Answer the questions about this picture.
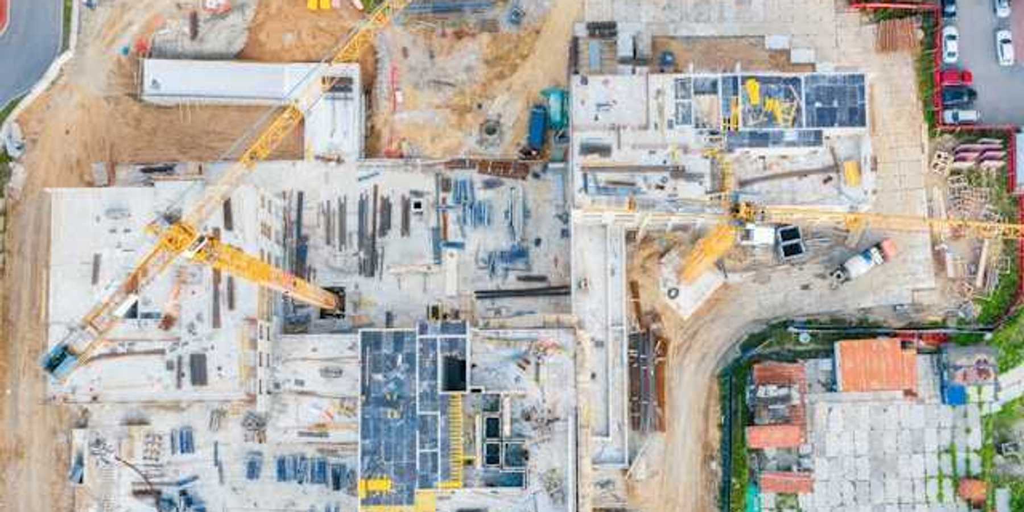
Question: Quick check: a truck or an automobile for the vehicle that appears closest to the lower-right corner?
truck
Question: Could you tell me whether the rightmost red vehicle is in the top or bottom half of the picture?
top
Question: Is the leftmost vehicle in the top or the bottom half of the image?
top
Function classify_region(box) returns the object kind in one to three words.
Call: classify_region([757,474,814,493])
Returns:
house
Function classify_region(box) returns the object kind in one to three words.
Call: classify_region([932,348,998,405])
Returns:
shed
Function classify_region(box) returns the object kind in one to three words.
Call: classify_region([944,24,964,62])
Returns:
car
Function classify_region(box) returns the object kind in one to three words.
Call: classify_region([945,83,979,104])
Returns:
car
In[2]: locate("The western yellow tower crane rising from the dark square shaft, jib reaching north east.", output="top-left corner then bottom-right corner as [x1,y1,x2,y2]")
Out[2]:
[41,0,423,391]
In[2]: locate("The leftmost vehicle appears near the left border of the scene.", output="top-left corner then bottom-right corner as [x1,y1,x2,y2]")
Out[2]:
[0,117,26,157]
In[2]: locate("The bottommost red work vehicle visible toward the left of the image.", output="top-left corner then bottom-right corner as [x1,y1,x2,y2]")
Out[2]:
[382,140,414,159]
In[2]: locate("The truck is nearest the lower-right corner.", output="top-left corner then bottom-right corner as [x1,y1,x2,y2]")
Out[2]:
[833,231,907,287]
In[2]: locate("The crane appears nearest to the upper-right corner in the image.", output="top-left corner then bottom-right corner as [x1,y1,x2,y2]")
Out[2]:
[584,184,1024,295]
